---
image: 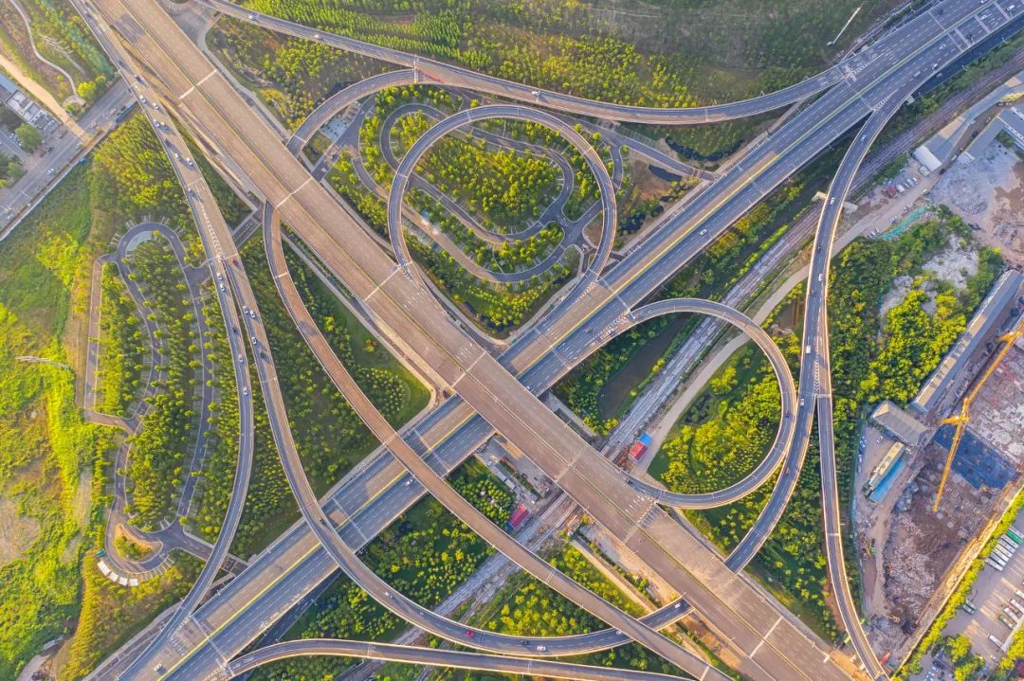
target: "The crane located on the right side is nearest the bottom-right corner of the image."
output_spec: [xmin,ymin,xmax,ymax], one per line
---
[932,398,983,511]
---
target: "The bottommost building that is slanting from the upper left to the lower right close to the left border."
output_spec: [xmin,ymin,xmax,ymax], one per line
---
[6,90,70,139]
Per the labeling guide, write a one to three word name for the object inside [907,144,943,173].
building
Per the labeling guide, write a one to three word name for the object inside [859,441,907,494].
building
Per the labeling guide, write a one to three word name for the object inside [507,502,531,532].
shed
